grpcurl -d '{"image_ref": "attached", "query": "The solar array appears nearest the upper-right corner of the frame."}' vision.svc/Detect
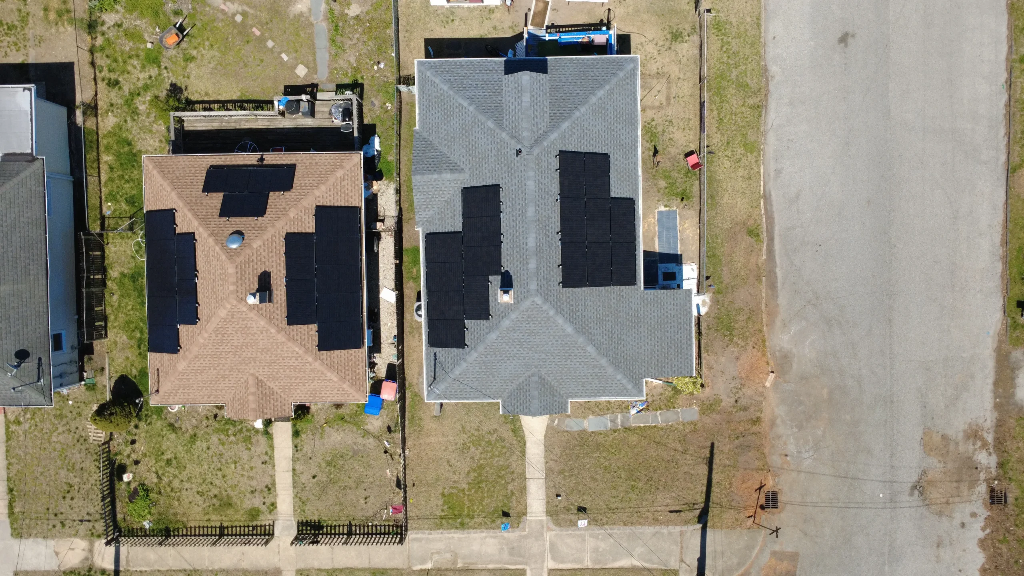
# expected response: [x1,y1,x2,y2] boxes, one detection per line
[556,152,636,287]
